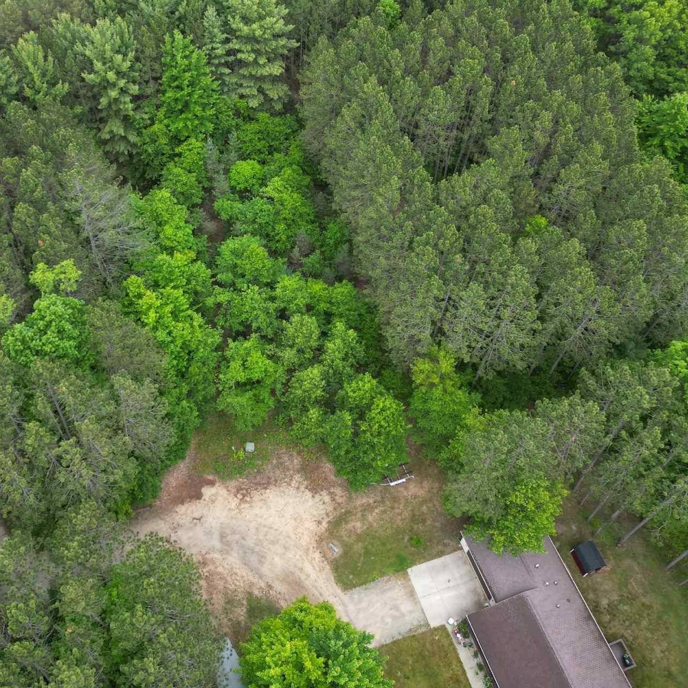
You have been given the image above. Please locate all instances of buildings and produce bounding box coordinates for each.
[567,541,607,579]
[459,514,633,688]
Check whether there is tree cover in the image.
Yes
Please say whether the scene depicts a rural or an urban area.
rural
